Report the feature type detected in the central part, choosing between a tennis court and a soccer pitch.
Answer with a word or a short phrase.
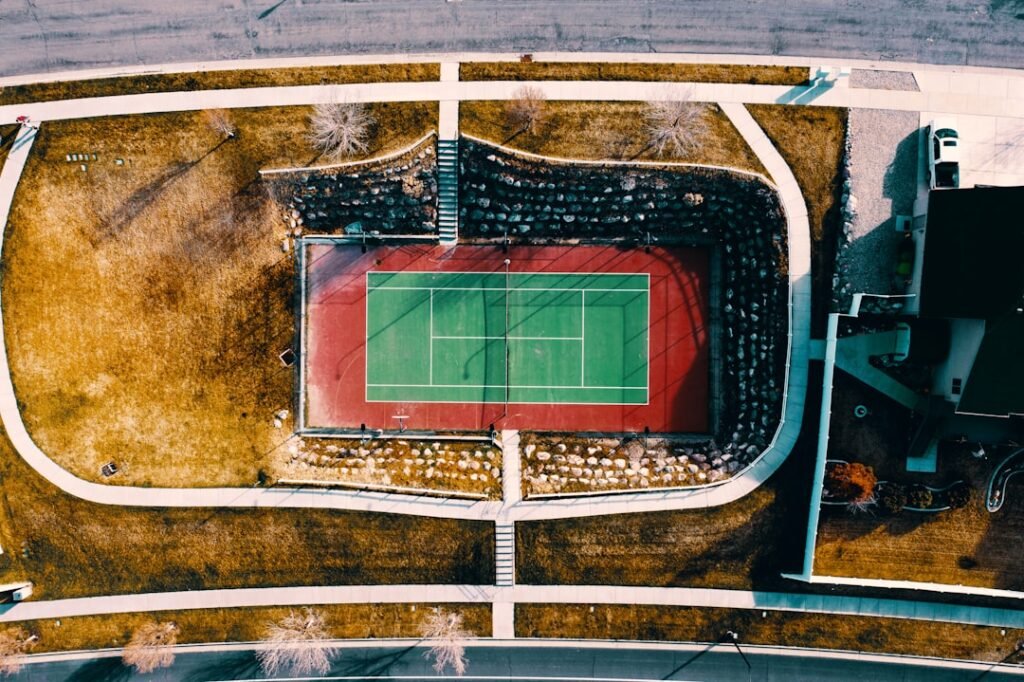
tennis court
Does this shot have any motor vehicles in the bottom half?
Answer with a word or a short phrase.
No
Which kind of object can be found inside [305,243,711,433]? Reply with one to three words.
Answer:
tennis court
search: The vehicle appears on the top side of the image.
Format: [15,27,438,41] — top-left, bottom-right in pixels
[927,119,964,185]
